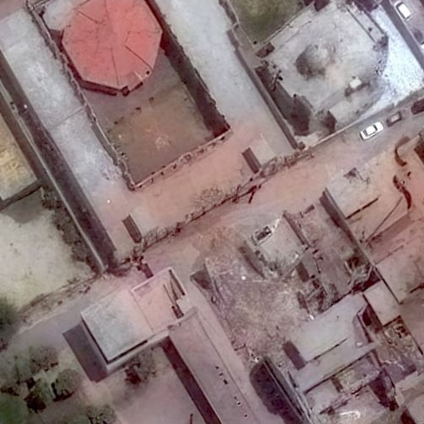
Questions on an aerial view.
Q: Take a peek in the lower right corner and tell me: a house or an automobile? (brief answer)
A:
house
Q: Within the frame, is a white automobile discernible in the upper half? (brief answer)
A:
Yes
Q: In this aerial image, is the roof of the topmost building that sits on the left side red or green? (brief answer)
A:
red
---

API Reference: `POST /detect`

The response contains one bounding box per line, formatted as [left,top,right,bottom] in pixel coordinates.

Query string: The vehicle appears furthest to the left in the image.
[359,122,384,140]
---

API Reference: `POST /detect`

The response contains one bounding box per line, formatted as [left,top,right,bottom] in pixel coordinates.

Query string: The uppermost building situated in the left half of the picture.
[62,0,162,93]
